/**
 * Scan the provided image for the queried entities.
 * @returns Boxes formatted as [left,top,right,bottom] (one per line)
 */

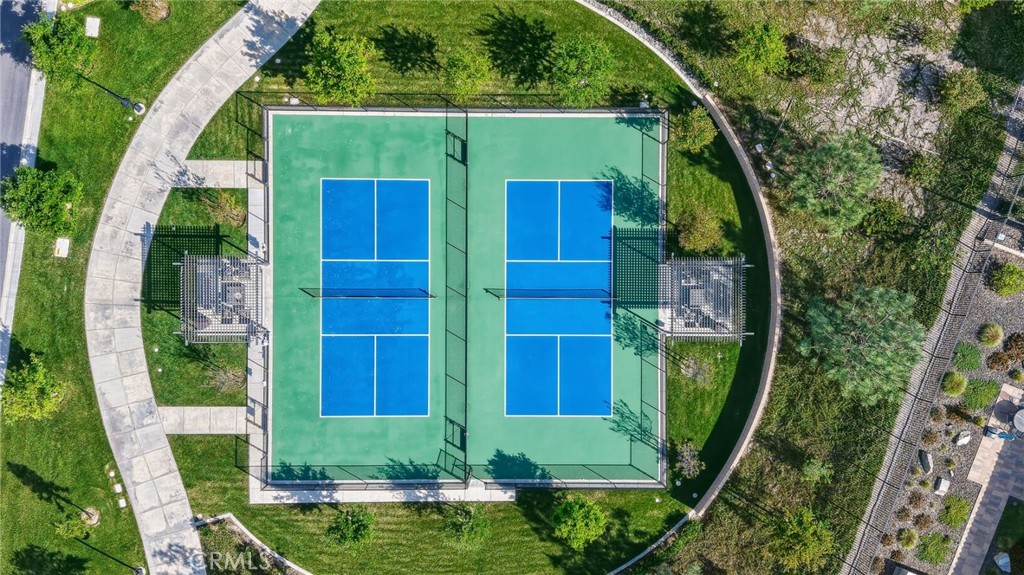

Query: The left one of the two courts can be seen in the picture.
[273,114,466,480]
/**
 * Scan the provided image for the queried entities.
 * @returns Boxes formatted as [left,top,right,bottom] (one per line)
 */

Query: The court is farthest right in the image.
[467,114,658,480]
